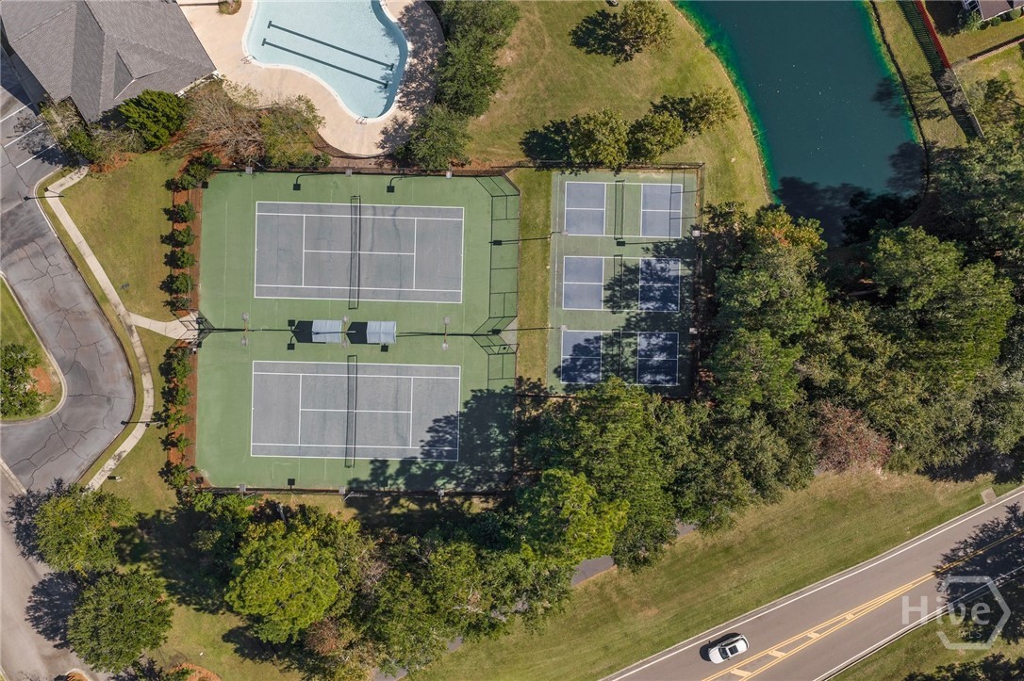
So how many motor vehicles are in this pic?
1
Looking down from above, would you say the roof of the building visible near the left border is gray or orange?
gray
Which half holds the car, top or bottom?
bottom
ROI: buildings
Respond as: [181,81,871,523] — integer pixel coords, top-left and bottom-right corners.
[0,0,223,123]
[941,0,1024,28]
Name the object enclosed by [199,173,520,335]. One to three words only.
tennis court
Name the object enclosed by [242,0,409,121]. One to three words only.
swimming pool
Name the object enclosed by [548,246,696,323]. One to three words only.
sports court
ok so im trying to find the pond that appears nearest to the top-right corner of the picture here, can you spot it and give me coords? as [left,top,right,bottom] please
[674,0,921,246]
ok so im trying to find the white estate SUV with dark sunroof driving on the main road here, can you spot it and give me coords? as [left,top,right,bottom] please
[706,634,748,663]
